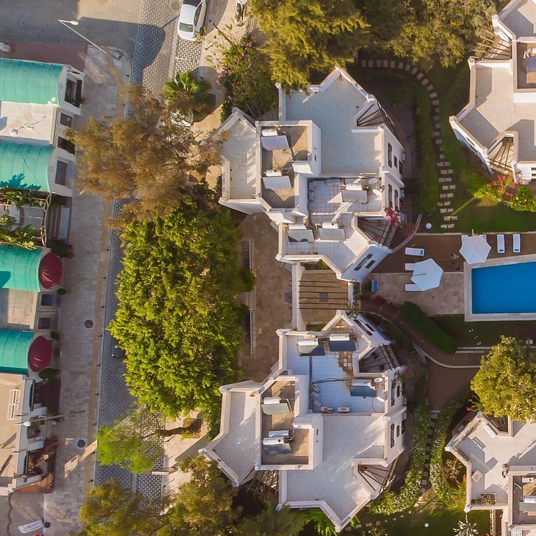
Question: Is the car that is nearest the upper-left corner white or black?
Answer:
white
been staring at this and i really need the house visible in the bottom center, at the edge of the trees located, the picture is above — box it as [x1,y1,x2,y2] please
[196,309,415,535]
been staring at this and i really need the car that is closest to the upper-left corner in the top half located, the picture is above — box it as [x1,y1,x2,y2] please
[172,0,204,38]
